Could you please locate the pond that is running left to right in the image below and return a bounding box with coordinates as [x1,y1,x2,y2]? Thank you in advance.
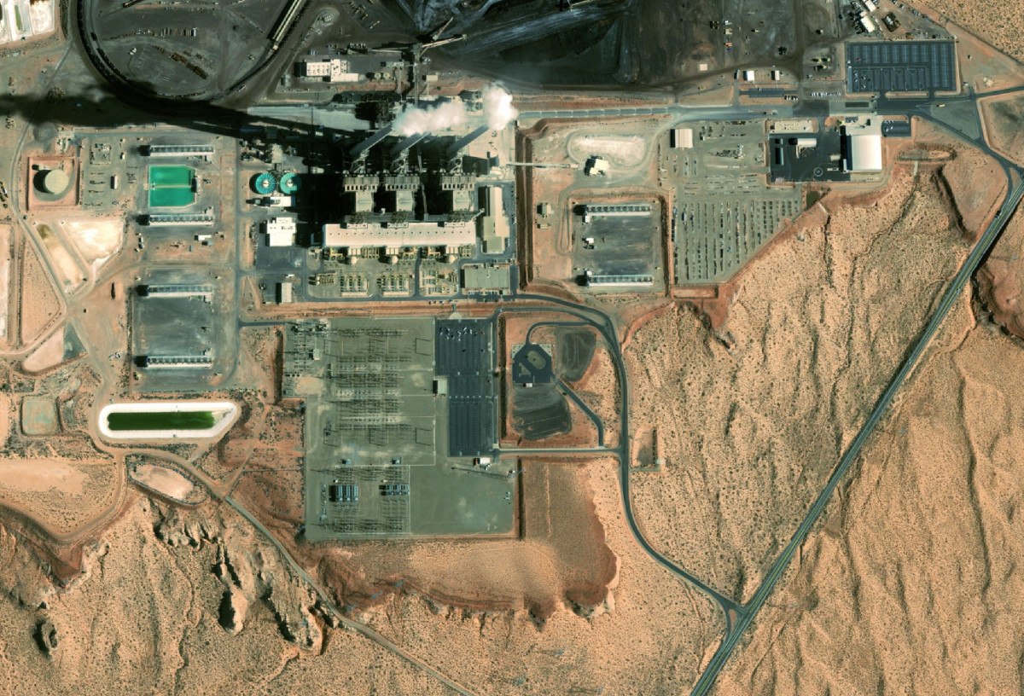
[100,402,236,439]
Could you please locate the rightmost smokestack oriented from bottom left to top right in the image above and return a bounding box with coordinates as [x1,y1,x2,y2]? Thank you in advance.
[441,123,491,158]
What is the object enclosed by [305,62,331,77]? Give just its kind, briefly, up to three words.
building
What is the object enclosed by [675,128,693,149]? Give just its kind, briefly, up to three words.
shed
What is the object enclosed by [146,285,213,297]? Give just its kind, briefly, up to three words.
cooling tower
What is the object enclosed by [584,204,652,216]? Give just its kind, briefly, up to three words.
cooling tower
